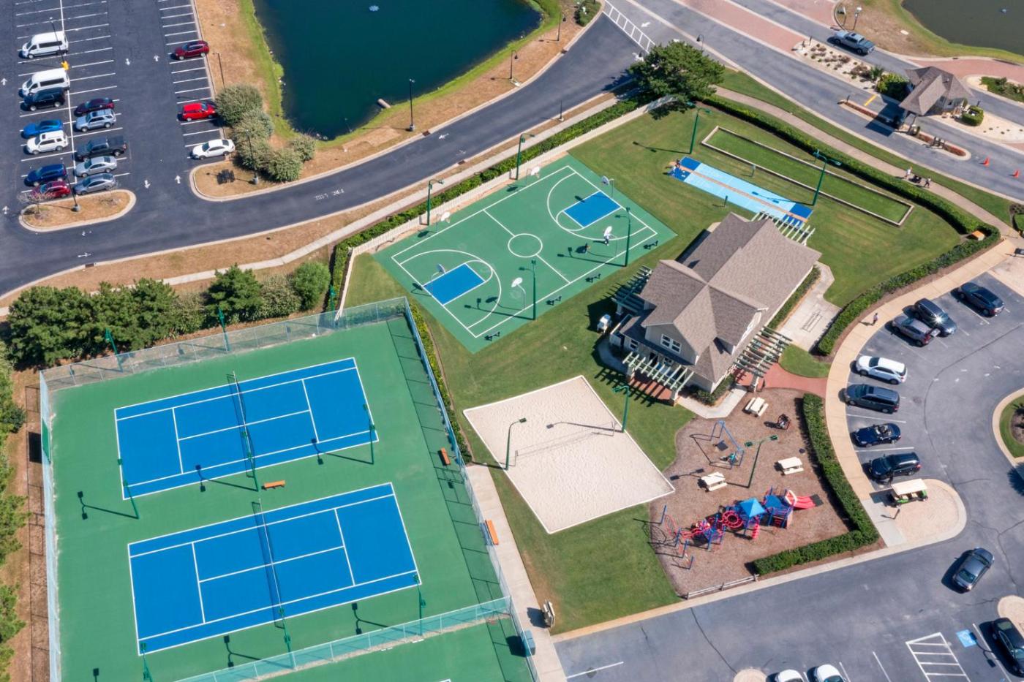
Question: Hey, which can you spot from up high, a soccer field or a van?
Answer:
van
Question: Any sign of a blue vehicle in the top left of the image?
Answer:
Yes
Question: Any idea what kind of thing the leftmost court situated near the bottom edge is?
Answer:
tennis court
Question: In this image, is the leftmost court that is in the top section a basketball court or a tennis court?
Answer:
basketball court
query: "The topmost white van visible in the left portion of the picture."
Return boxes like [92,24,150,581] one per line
[22,29,71,58]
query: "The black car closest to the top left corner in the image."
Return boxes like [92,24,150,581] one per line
[24,88,65,110]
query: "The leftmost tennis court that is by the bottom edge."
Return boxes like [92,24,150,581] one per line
[128,483,420,655]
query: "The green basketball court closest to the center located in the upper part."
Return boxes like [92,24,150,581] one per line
[373,153,677,353]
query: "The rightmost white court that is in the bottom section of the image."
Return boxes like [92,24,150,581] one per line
[462,374,676,534]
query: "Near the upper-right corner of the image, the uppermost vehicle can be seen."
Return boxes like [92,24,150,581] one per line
[832,30,876,54]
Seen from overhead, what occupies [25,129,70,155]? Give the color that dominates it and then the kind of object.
white car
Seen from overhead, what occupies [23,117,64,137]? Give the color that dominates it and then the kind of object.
blue car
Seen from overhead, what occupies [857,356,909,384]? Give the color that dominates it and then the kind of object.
white car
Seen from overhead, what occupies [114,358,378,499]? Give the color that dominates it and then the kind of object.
blue tennis court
